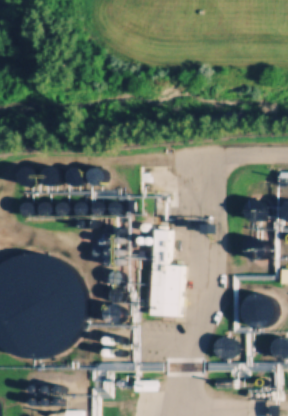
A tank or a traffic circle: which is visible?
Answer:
tank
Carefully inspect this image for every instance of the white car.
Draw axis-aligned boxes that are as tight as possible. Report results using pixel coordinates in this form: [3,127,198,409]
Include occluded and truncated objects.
[215,312,223,325]
[222,275,227,288]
